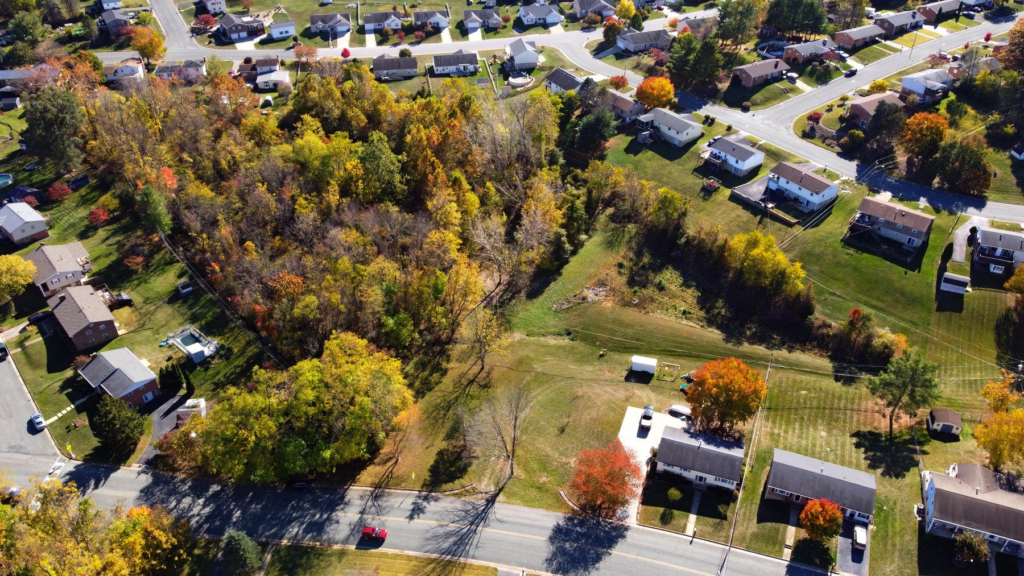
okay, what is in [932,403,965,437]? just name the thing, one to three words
shed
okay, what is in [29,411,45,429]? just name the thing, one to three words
car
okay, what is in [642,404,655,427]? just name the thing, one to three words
vehicle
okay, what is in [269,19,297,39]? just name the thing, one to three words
house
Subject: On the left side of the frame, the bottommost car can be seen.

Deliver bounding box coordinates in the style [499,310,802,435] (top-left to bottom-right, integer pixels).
[360,528,389,544]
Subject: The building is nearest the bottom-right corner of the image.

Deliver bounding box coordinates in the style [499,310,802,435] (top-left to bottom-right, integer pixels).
[918,456,1024,565]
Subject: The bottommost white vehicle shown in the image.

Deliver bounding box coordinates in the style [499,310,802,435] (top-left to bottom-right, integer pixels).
[854,523,869,550]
